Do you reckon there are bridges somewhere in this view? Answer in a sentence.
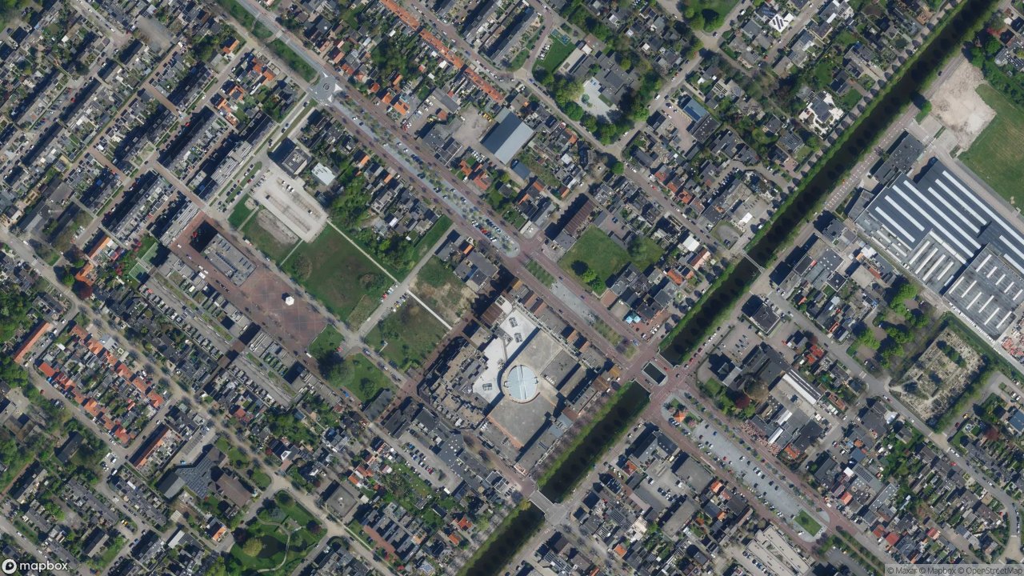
Yes, there's a bridge here.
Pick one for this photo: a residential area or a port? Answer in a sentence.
It's a residential area.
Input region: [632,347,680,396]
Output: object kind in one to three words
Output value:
bridge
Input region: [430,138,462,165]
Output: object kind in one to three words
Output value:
building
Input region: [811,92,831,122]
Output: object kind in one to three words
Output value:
house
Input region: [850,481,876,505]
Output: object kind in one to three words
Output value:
building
